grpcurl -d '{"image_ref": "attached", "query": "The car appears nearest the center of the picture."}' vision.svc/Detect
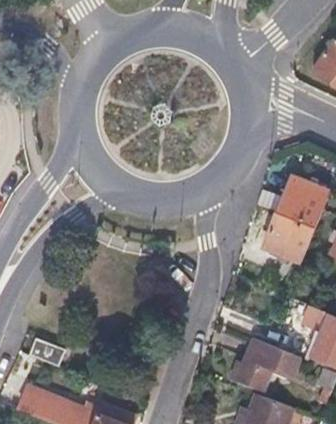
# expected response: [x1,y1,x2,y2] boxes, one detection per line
[176,253,196,272]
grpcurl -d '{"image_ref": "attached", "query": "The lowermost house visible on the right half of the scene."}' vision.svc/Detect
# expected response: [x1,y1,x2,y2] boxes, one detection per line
[238,391,298,424]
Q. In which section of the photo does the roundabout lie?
top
